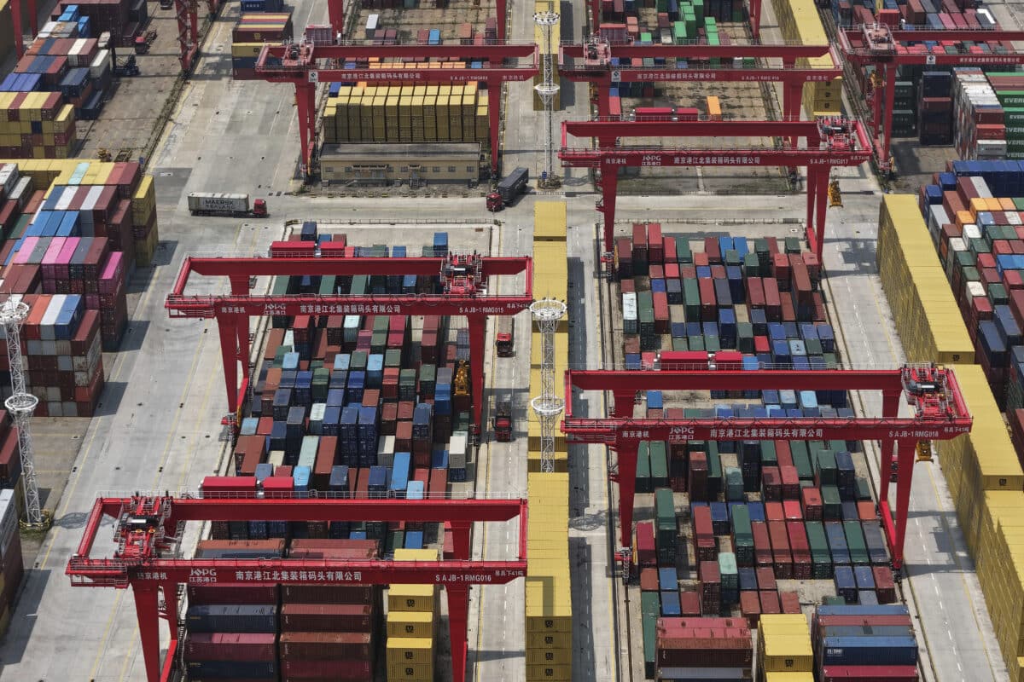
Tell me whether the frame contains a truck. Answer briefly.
Yes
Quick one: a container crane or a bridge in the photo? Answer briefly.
container crane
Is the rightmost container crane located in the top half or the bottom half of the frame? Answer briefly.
top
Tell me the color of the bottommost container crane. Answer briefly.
red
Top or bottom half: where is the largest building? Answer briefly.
top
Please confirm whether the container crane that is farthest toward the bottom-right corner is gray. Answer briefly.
No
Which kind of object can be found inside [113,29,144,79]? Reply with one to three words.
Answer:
work vehicle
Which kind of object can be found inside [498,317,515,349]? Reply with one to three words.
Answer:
vehicle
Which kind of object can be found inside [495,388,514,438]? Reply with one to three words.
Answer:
vehicle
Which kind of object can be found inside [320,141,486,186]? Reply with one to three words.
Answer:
building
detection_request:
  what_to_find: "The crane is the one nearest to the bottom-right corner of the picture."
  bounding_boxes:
[557,347,972,579]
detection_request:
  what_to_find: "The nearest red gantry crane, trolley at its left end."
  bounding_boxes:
[62,470,532,682]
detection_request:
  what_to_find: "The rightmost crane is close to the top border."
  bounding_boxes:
[837,12,1024,165]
